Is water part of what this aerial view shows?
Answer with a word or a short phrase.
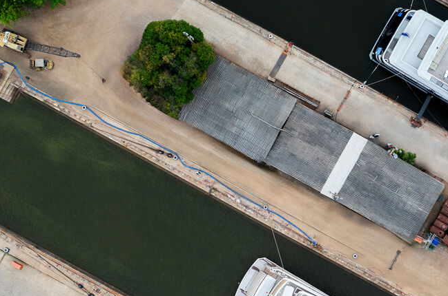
Yes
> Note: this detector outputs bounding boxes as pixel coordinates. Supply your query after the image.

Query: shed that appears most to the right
[249,103,445,244]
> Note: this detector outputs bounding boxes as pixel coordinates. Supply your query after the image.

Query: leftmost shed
[179,53,296,161]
